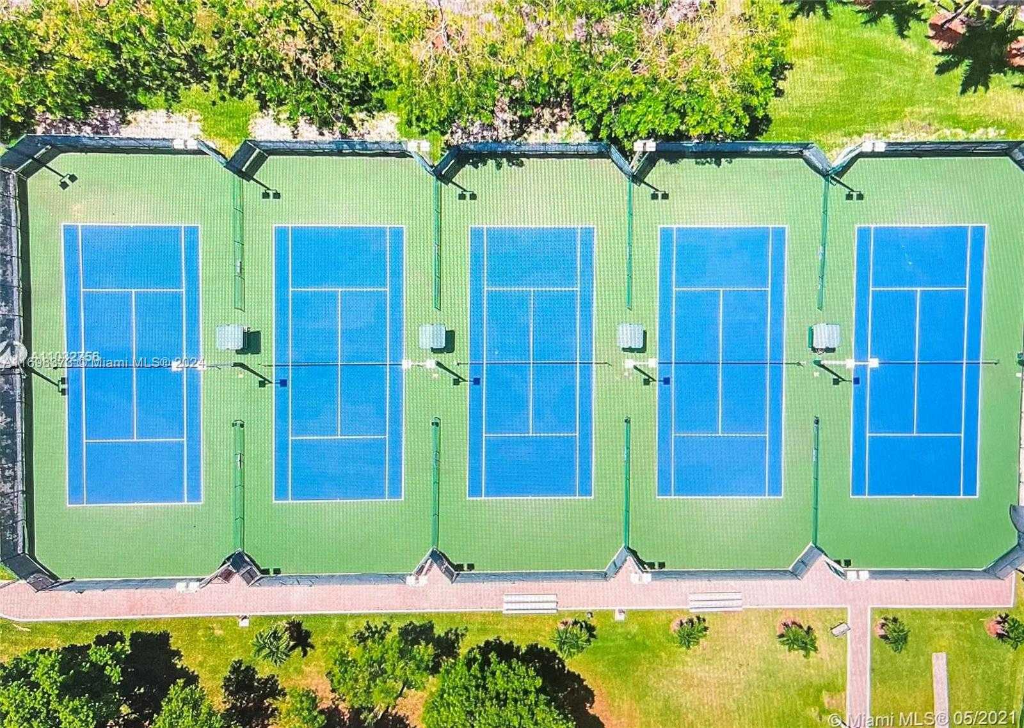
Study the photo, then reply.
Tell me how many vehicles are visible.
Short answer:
0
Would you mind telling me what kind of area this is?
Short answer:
sports ground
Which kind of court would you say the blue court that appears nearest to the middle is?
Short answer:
tennis court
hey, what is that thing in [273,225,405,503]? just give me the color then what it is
blue tennis court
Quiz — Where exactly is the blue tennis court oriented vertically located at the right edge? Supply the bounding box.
[851,223,988,498]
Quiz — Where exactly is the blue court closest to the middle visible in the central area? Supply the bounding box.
[467,225,596,499]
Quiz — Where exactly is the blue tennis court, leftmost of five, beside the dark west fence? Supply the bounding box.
[62,223,203,507]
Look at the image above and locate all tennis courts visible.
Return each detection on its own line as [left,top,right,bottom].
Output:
[62,223,203,507]
[851,223,988,498]
[273,225,405,503]
[467,225,596,499]
[657,225,788,498]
